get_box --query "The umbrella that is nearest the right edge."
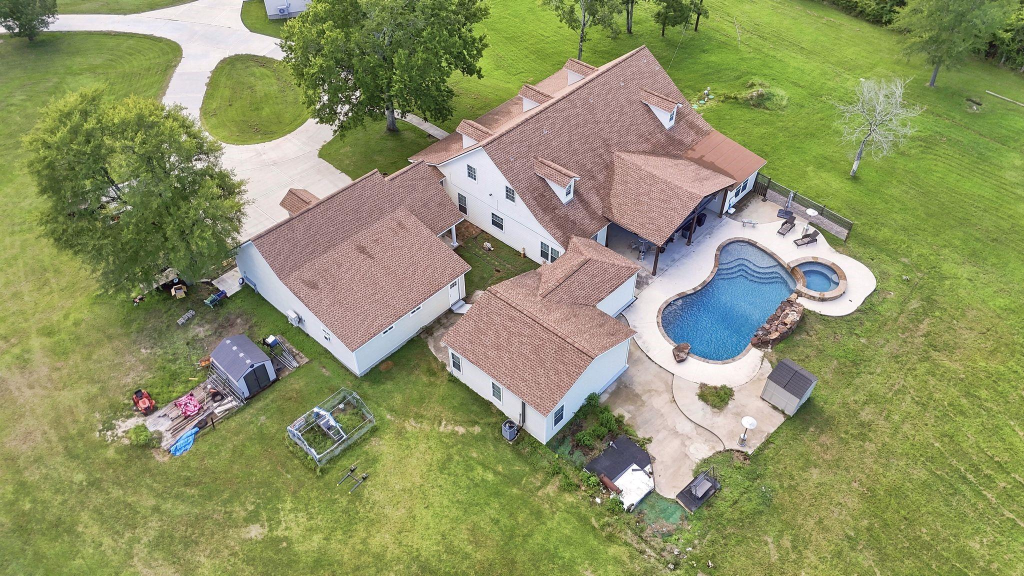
[778,190,793,217]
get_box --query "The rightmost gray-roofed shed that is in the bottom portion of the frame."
[761,358,817,414]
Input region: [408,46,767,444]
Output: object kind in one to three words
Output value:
house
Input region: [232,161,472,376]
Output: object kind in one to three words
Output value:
building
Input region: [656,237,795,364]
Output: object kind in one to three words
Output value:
swimming pool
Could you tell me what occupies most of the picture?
grass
